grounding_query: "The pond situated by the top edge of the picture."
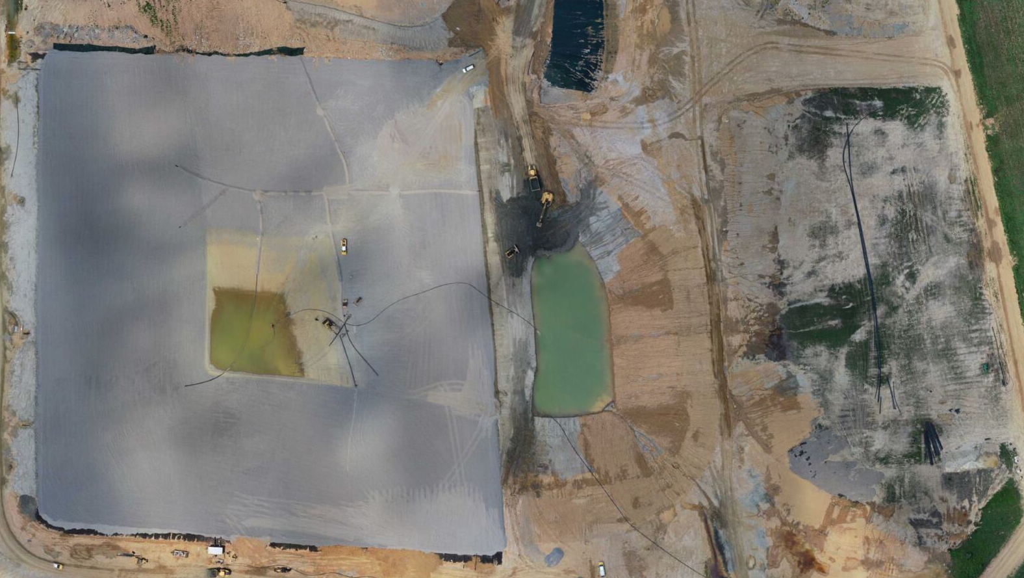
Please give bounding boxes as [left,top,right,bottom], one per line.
[544,0,606,92]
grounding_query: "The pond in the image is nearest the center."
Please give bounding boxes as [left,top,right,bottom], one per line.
[531,243,615,418]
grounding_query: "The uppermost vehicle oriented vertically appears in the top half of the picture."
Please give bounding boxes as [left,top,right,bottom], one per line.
[528,167,540,191]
